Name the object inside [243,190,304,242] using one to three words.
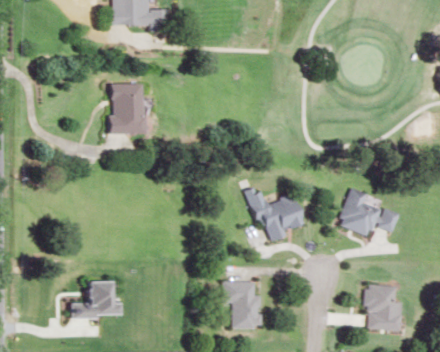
house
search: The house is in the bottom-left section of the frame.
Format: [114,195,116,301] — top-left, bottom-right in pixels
[70,282,124,318]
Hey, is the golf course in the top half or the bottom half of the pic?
top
